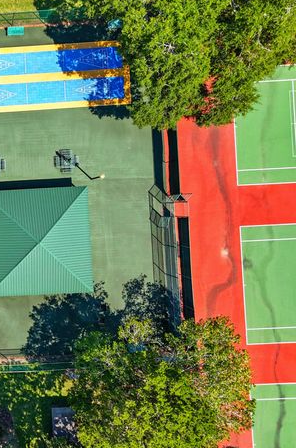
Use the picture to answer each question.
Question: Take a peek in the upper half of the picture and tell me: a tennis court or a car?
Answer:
tennis court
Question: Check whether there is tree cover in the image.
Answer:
Yes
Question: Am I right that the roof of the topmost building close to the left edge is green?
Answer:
Yes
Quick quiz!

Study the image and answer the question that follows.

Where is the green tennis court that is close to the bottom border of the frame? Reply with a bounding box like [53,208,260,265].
[250,382,296,448]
